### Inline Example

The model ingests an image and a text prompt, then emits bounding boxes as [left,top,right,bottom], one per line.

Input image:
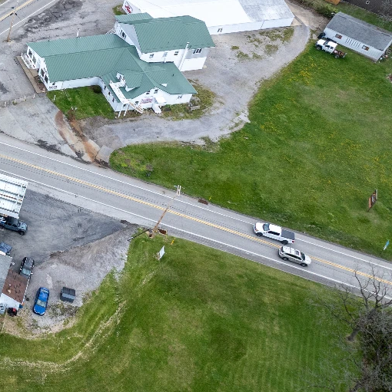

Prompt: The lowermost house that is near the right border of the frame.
[320,12,392,59]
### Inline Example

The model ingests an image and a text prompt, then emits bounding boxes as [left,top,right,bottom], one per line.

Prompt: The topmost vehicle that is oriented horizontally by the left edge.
[0,216,29,233]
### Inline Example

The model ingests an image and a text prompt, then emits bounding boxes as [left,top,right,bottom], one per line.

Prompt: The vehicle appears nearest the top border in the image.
[315,41,350,56]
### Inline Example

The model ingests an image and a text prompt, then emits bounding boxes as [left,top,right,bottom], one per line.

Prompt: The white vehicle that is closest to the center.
[253,222,297,246]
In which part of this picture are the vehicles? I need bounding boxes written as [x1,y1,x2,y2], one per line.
[278,242,315,267]
[315,41,350,56]
[253,222,297,246]
[18,249,36,278]
[0,216,29,233]
[33,284,52,315]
